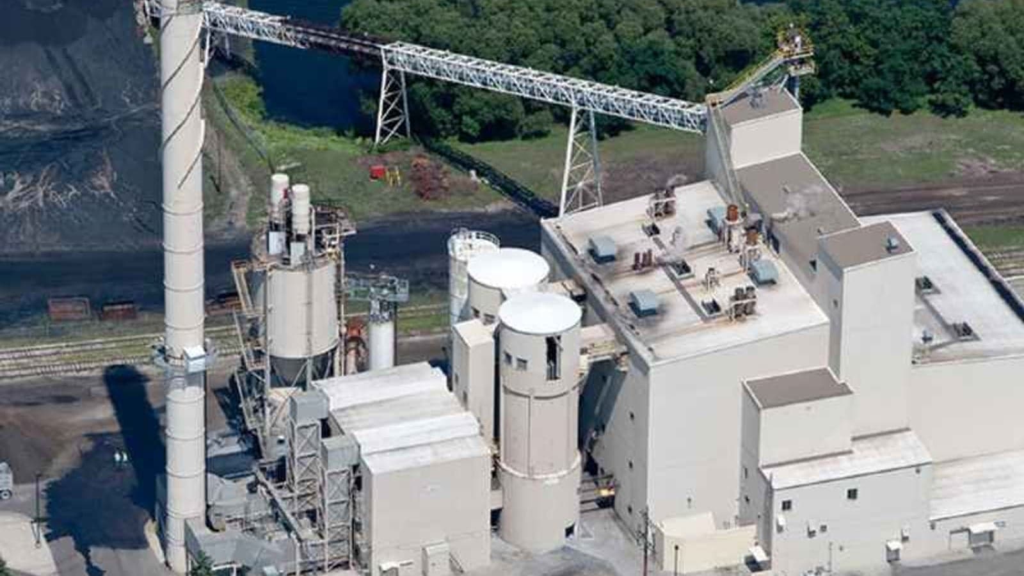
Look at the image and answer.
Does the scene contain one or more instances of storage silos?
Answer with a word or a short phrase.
Yes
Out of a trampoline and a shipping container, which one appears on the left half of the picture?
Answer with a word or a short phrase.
shipping container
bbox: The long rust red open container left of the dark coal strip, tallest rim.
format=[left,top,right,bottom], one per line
[47,294,91,320]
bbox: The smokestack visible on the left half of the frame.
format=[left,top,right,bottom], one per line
[151,0,217,576]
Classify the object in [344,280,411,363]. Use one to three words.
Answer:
silo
